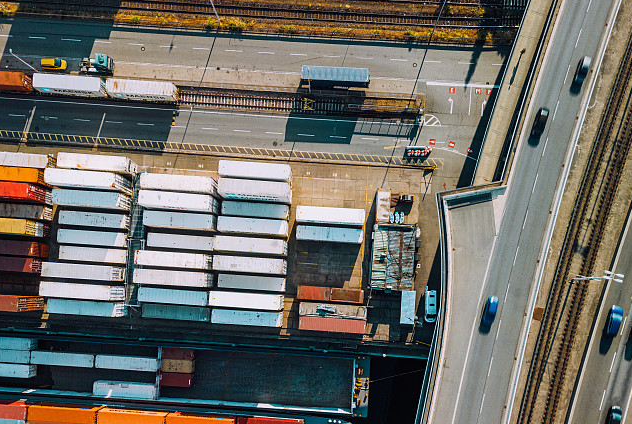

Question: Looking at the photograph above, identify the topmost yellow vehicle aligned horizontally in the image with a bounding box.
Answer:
[40,57,67,70]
